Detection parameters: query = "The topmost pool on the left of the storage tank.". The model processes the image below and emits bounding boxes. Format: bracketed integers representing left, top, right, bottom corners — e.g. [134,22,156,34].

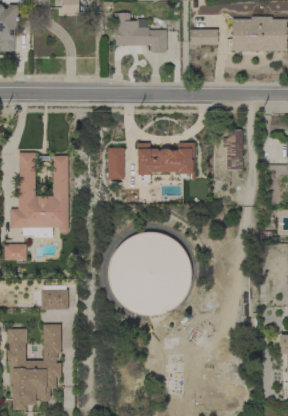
[35,242,60,258]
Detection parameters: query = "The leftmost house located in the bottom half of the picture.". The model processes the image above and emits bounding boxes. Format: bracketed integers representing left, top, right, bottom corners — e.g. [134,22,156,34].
[4,243,26,260]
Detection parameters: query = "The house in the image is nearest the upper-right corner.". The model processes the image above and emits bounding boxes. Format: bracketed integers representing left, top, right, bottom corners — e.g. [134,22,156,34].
[233,16,288,50]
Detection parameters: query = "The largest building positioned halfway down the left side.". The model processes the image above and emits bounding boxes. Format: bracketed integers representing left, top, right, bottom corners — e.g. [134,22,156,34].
[11,151,70,232]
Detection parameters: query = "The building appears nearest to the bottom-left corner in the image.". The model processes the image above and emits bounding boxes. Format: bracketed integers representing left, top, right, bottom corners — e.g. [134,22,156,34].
[8,324,62,410]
